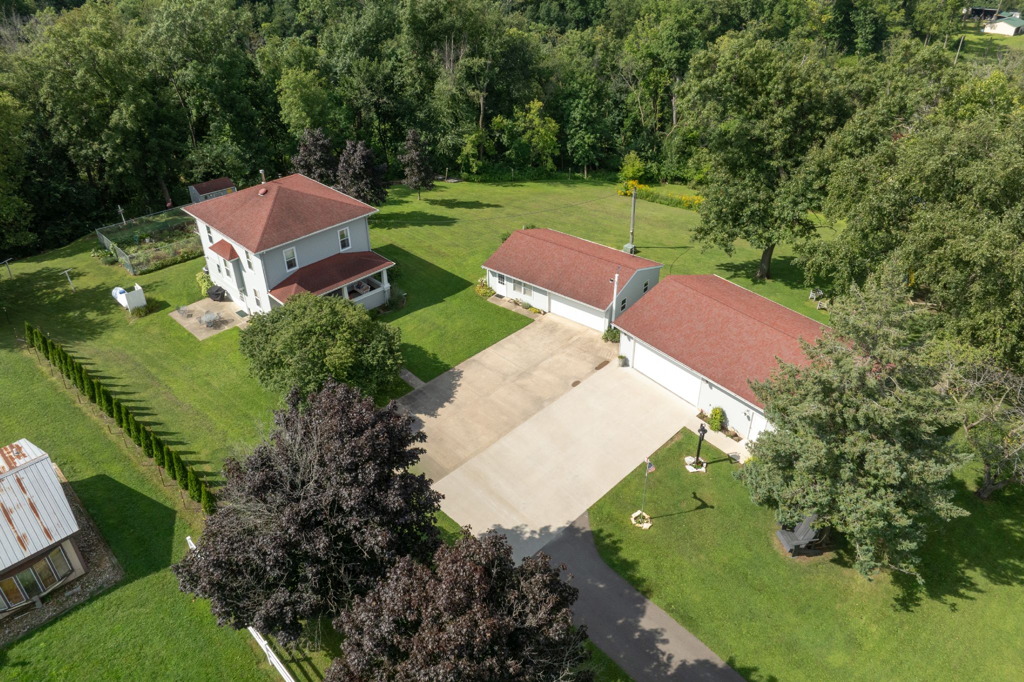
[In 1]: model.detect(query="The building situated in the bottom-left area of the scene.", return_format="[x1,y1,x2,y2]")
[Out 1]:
[0,438,88,623]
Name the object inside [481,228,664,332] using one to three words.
building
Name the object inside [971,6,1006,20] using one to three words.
shed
